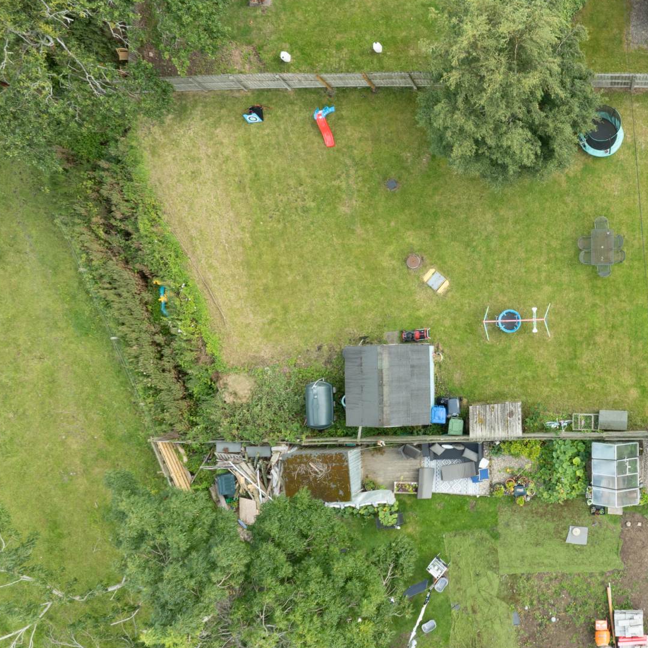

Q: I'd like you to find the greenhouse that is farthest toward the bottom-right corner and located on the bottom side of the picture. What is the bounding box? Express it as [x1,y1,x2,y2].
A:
[590,441,640,510]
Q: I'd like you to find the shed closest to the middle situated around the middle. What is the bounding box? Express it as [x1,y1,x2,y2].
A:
[344,332,433,441]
